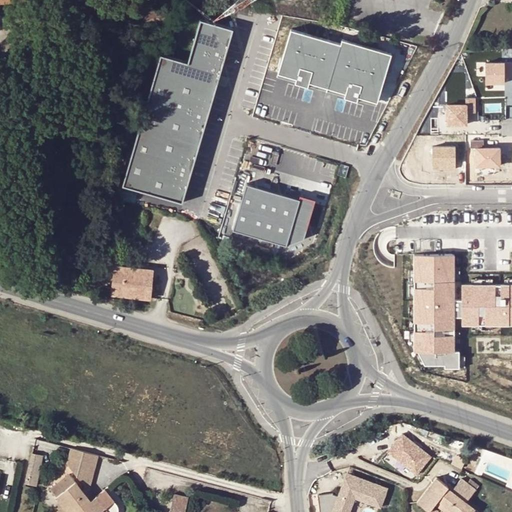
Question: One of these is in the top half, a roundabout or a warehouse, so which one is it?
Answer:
warehouse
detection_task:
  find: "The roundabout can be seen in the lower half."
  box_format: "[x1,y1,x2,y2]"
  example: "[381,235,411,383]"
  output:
[221,283,392,452]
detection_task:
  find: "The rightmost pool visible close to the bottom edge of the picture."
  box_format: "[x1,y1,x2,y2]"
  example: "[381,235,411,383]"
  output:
[475,450,512,488]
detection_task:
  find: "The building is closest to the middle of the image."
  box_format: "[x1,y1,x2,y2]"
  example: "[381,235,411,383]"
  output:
[234,184,318,246]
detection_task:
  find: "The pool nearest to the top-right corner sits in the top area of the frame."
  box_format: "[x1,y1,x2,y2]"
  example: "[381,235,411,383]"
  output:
[482,102,502,114]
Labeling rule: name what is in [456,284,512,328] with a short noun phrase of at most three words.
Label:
building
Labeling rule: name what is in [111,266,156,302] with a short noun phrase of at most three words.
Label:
house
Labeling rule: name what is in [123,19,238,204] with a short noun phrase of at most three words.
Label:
warehouse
